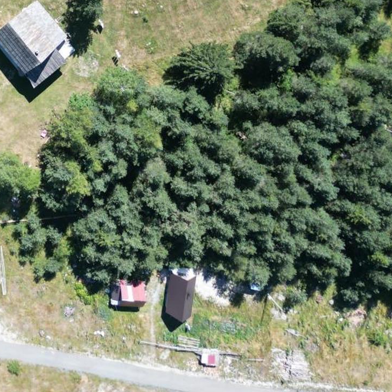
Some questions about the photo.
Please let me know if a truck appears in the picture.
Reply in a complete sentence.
No, I can't see a single truck in this photo.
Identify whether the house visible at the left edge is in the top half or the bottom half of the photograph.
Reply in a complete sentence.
It is in the top half that the house visible at the left edge appears.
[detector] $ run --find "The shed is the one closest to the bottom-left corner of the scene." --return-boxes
[110,276,146,307]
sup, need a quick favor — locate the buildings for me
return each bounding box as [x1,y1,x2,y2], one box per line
[164,271,197,323]
[201,347,219,366]
[110,276,146,307]
[0,1,74,87]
